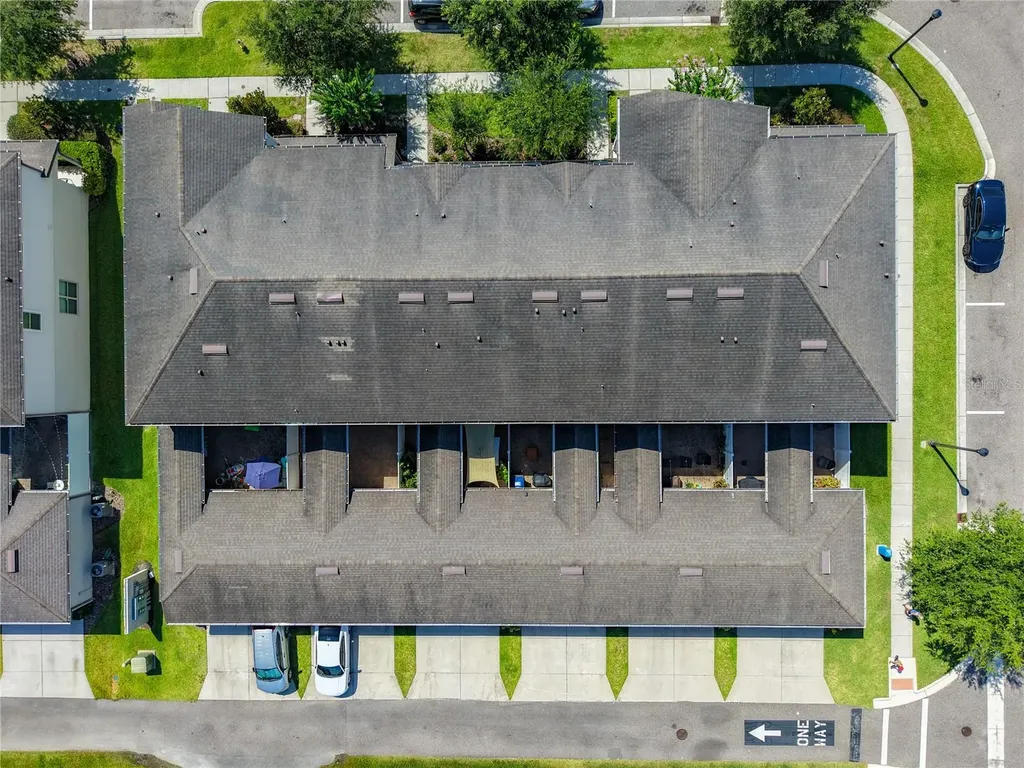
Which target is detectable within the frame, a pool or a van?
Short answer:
van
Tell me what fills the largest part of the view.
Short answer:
buildings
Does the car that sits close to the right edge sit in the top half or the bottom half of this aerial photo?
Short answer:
top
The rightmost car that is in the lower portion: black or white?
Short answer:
white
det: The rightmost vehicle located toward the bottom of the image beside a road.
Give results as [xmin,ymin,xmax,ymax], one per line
[311,625,352,700]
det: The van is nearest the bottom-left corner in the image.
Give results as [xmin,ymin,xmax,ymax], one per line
[249,624,292,696]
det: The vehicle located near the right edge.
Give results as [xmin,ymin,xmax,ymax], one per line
[960,180,1009,271]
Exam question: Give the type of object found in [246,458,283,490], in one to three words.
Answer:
umbrella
